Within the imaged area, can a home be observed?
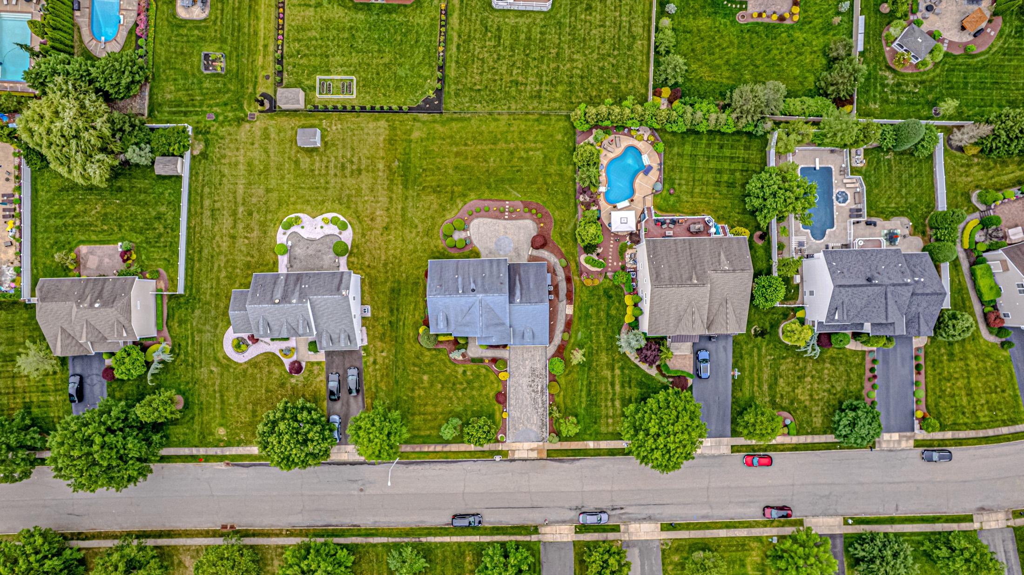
Yes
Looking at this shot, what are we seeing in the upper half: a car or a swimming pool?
swimming pool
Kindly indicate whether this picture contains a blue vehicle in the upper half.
No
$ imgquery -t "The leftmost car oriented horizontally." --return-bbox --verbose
[451,512,482,526]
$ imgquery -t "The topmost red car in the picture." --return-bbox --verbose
[742,453,772,468]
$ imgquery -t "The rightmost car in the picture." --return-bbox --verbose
[919,448,953,463]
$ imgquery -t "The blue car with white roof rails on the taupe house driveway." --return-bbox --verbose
[695,349,711,380]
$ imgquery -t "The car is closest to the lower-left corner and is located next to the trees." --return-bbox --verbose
[68,374,86,403]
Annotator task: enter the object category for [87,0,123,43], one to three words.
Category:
swimming pool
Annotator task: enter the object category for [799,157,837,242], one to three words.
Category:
swimming pool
